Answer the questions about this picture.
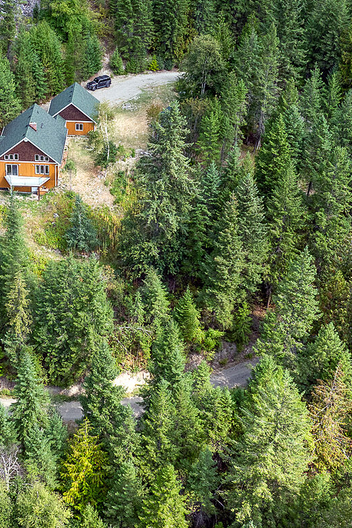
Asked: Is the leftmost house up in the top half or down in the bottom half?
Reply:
top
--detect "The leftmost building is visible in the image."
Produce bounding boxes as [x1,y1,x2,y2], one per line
[0,104,69,202]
